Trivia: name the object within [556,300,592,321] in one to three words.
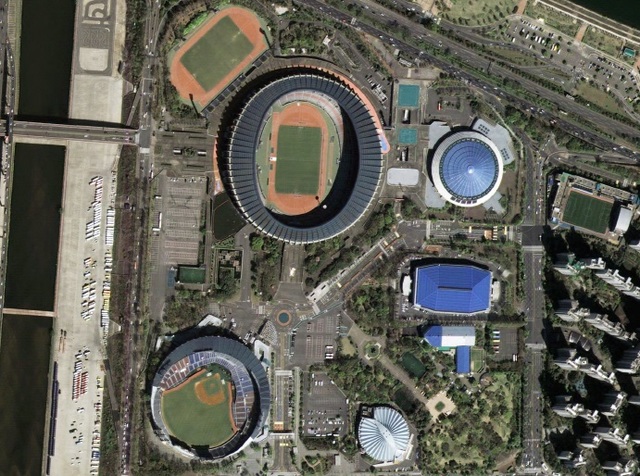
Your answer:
building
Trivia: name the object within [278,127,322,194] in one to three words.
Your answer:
sports field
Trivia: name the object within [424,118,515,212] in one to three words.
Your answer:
building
